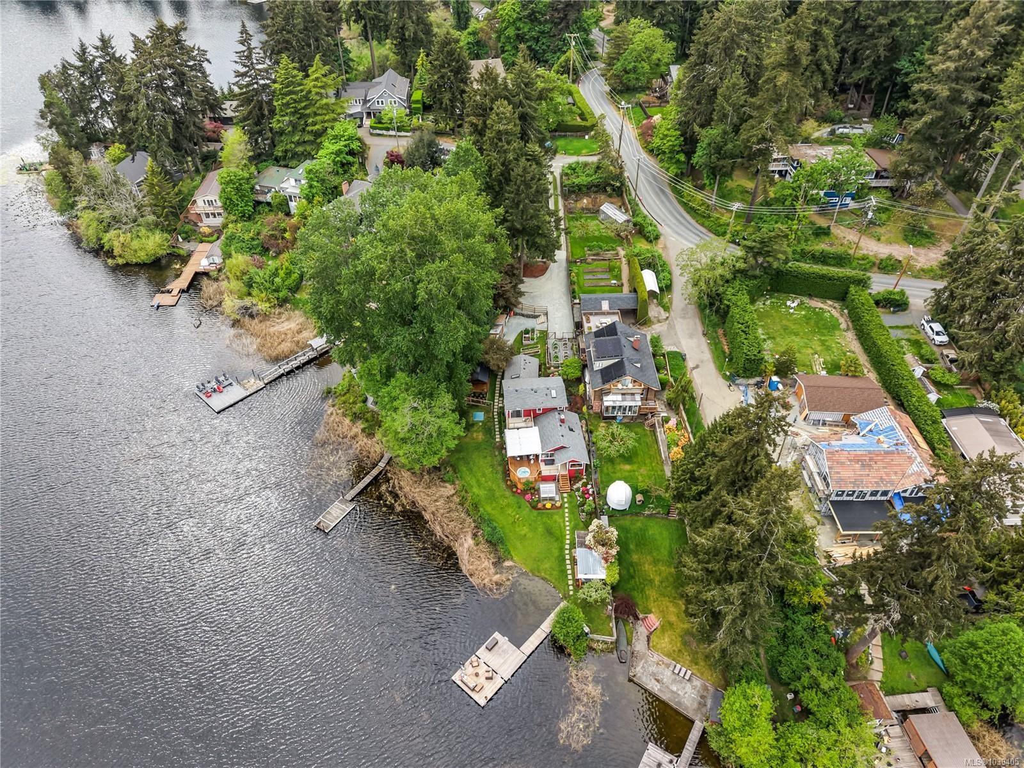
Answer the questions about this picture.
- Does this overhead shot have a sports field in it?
No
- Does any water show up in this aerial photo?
Yes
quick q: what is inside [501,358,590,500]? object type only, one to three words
house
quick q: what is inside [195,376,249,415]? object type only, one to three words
pier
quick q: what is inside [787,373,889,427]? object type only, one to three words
building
